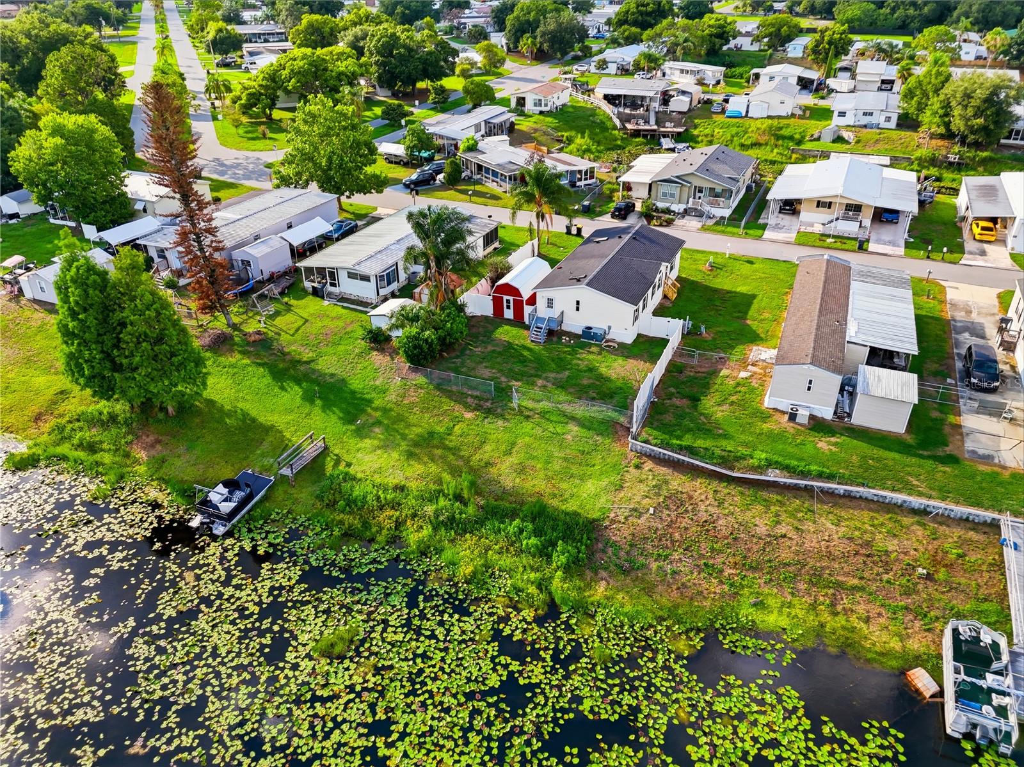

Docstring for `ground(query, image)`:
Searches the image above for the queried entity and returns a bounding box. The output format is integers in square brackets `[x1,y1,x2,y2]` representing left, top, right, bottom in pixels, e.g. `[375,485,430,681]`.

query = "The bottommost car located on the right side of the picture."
[959,339,1004,387]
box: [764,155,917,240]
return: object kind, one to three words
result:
house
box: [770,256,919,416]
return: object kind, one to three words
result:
house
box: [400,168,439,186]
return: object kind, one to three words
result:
car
